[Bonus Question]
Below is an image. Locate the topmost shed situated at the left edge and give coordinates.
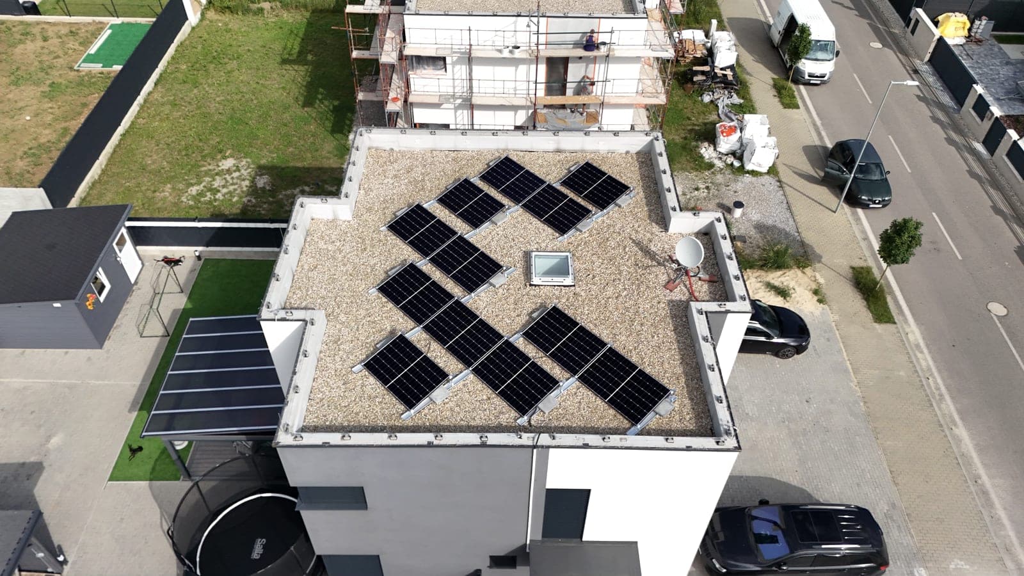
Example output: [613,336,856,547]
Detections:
[0,204,143,349]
